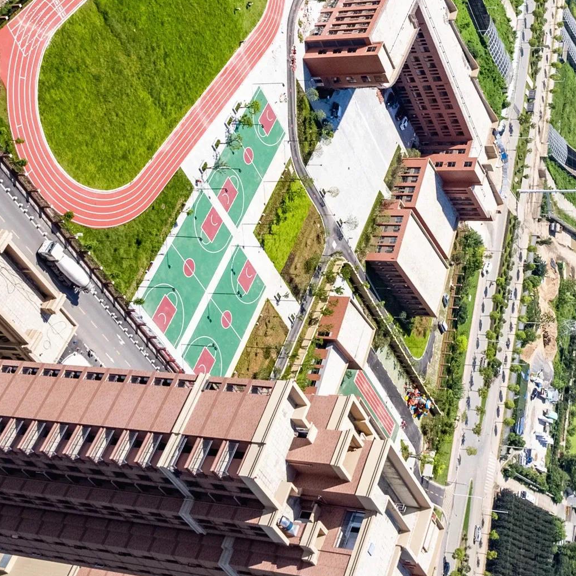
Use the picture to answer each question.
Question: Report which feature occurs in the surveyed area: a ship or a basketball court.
basketball court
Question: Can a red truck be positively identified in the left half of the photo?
No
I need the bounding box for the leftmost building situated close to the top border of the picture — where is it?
[295,0,504,220]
